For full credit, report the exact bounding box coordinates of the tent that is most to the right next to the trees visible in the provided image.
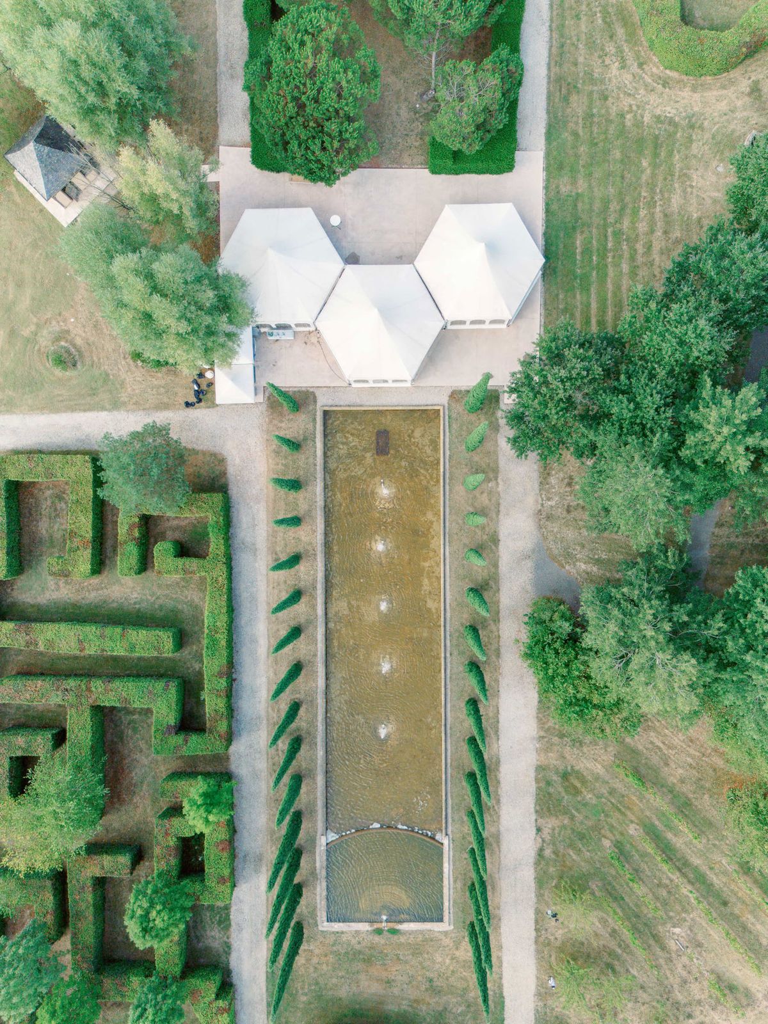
[414,203,545,331]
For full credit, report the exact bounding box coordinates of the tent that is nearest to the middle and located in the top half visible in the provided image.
[315,264,445,388]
